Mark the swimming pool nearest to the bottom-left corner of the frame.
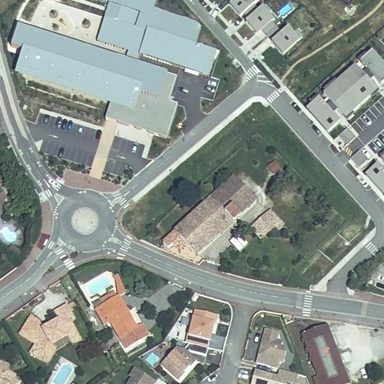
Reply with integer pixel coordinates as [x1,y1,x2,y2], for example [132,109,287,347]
[51,360,74,384]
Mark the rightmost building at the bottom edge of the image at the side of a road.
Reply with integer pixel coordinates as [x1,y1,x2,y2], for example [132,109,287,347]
[300,322,351,384]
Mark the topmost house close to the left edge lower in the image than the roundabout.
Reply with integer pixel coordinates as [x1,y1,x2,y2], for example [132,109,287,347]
[18,302,83,364]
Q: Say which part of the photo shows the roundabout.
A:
left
